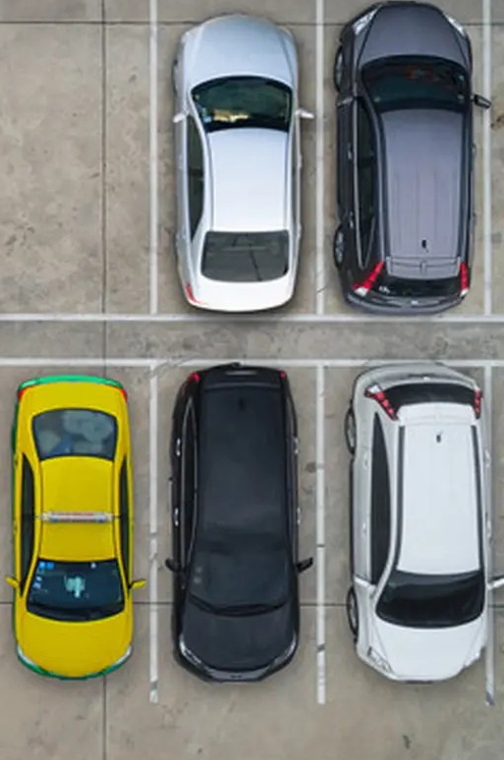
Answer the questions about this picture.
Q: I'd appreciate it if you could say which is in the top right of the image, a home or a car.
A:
car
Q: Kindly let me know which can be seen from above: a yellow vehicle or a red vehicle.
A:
yellow vehicle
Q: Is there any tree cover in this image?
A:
No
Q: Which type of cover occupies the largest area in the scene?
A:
paved ground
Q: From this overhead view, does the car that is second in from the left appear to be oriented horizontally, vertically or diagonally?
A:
vertically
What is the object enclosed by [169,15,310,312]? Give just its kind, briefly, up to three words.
car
